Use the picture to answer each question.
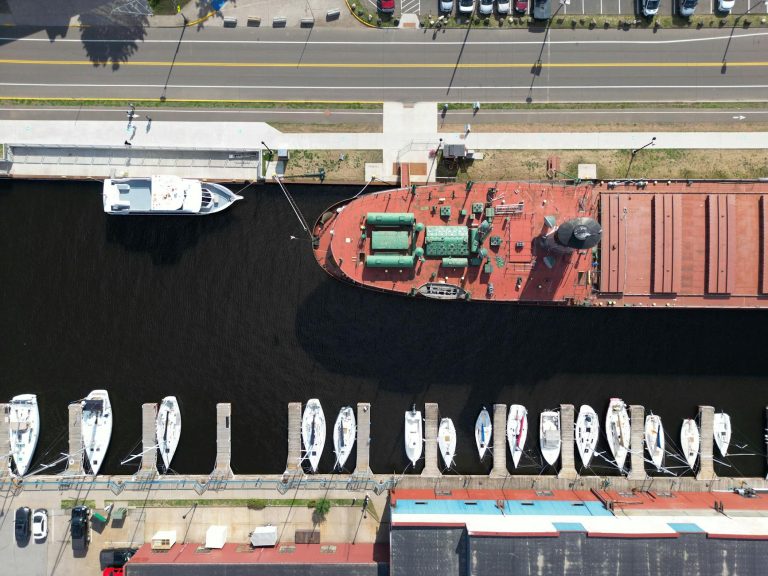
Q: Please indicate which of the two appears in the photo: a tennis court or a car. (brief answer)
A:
car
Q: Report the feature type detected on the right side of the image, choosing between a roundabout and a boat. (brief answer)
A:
boat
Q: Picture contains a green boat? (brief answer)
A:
No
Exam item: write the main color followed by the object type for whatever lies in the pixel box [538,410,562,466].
white boat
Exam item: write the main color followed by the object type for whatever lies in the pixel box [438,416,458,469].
white boat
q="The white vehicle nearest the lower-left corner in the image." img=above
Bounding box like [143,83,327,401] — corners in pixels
[32,507,50,538]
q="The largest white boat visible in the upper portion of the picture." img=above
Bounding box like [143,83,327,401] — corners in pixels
[104,176,242,214]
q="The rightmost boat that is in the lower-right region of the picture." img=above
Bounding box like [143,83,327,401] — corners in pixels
[714,410,760,460]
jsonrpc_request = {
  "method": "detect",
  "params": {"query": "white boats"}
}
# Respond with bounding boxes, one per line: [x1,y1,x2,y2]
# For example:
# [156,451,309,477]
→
[332,405,357,469]
[678,418,723,471]
[644,412,688,471]
[574,404,620,474]
[302,398,328,472]
[538,410,562,466]
[438,416,458,469]
[0,392,45,476]
[39,388,118,478]
[714,410,760,460]
[128,394,184,472]
[602,396,665,473]
[404,407,424,471]
[104,176,242,214]
[507,404,536,469]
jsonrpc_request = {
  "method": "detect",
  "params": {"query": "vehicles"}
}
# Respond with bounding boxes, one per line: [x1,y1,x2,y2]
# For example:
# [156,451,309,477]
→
[459,0,475,15]
[532,0,550,22]
[514,0,529,13]
[14,506,32,539]
[496,0,512,14]
[378,0,393,14]
[714,0,732,14]
[677,0,695,17]
[71,506,90,546]
[100,546,136,564]
[479,0,494,15]
[439,0,454,14]
[106,564,121,576]
[640,0,658,18]
[32,507,50,538]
